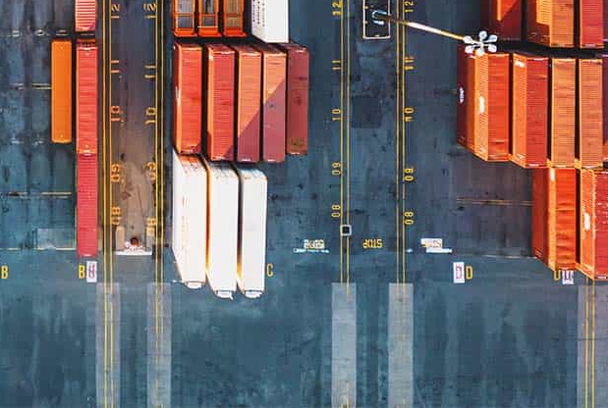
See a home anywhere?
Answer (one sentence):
No, there appears to be no home in this shot.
